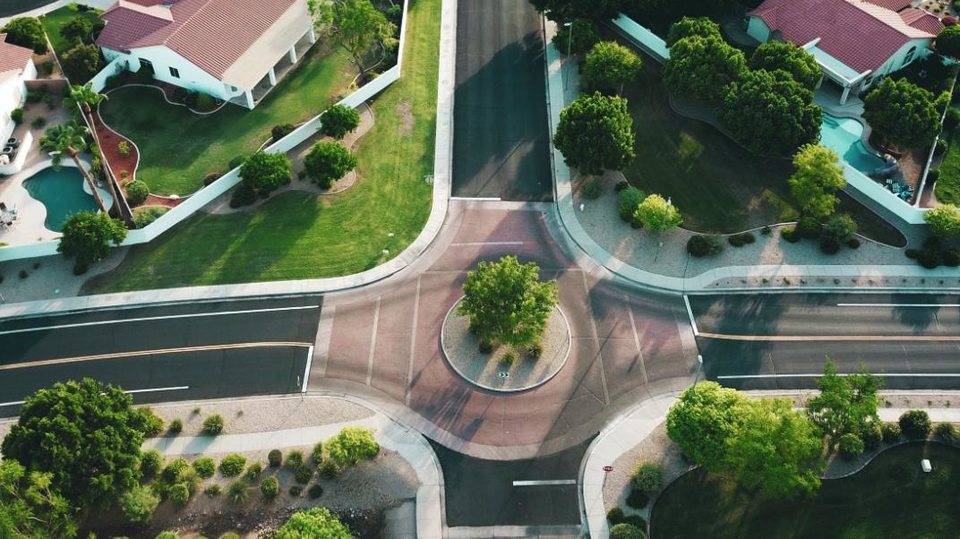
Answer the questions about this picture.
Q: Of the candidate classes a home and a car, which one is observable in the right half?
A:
home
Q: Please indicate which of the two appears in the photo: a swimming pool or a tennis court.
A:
swimming pool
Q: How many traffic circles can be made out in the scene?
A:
one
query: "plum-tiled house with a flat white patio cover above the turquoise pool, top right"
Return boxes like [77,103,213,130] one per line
[736,0,927,102]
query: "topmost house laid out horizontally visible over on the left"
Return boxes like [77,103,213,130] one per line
[95,0,322,109]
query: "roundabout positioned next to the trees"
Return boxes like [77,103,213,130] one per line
[307,200,703,459]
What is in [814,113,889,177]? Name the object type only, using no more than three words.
swimming pool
